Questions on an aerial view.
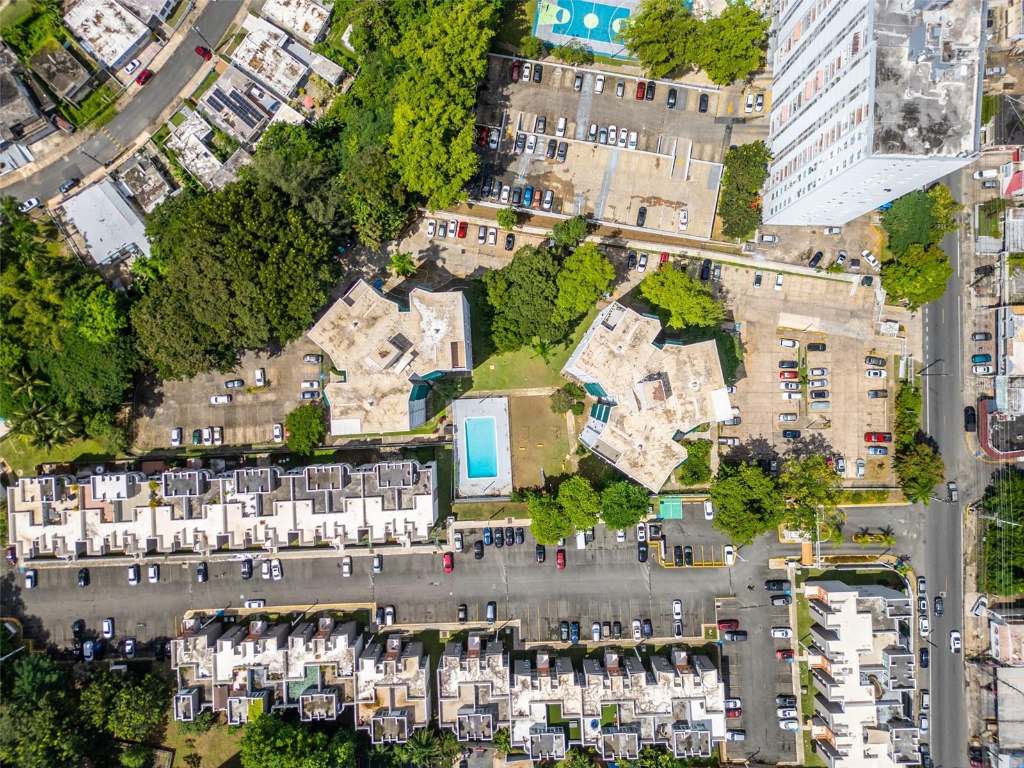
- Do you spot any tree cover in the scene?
Yes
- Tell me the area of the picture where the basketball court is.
top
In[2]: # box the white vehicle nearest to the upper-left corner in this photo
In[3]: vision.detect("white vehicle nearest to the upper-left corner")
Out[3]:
[124,59,142,75]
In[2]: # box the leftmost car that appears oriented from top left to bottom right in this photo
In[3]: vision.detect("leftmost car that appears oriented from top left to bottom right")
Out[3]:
[52,114,73,132]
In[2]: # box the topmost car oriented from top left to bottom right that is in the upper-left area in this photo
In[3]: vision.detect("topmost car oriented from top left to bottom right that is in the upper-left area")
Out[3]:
[194,45,213,62]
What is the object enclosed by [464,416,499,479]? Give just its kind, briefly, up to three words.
swimming pool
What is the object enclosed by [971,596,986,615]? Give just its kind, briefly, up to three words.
car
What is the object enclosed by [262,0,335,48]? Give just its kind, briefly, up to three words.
house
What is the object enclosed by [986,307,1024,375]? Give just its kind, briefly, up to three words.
building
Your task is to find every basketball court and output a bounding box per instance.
[521,0,660,64]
